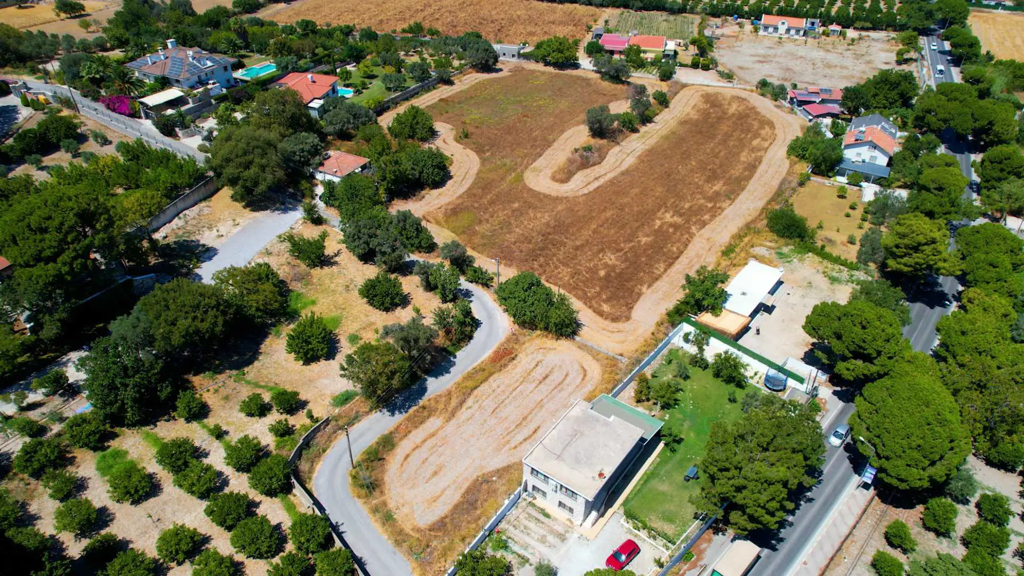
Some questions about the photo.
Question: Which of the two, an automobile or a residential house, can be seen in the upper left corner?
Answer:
residential house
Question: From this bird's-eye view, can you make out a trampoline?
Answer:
Yes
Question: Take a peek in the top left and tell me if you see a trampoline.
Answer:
No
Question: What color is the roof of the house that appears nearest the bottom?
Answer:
white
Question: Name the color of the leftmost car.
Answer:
red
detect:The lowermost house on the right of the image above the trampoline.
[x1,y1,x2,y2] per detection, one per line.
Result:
[708,255,775,335]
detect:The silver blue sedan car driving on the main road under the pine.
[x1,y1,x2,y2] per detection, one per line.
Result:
[828,420,854,447]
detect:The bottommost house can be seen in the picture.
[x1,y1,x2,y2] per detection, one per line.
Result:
[518,393,665,546]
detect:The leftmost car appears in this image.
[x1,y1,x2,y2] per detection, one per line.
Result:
[607,534,644,569]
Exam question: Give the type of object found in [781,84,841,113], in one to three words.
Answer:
house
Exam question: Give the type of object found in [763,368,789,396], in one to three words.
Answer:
trampoline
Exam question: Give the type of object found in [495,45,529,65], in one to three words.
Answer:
shed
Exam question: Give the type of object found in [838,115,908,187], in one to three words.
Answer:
house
